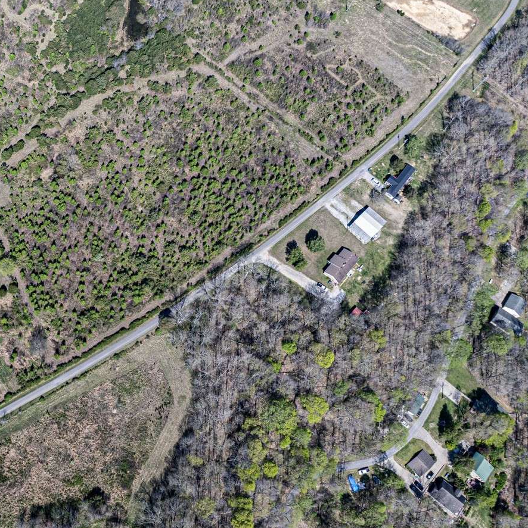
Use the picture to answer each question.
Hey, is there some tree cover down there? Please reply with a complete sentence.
Yes, there's tree cover in this view.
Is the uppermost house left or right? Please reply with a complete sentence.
You can find the uppermost house on the right side of the picture.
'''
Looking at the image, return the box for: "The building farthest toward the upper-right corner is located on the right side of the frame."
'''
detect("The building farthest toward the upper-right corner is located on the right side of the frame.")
[383,163,416,204]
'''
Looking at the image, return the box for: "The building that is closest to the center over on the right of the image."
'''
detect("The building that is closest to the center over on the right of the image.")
[322,250,361,288]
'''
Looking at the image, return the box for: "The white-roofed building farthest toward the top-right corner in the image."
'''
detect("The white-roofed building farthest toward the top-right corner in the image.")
[348,209,386,244]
